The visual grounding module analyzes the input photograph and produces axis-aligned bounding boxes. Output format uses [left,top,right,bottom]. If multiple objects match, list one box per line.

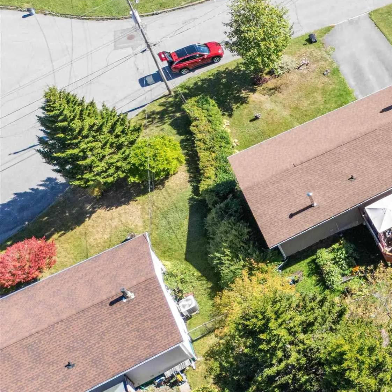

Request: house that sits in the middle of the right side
[230,85,392,260]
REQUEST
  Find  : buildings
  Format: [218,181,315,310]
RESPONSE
[230,85,392,260]
[0,231,200,392]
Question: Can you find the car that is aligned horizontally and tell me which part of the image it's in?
top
